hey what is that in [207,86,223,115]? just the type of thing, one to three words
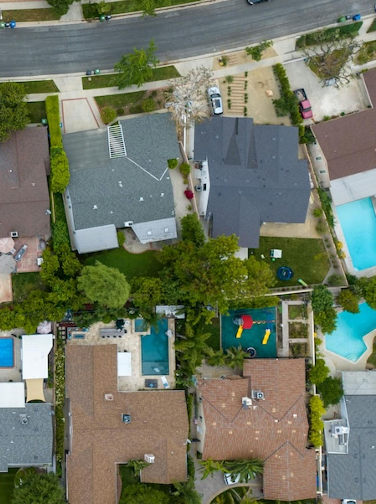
car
